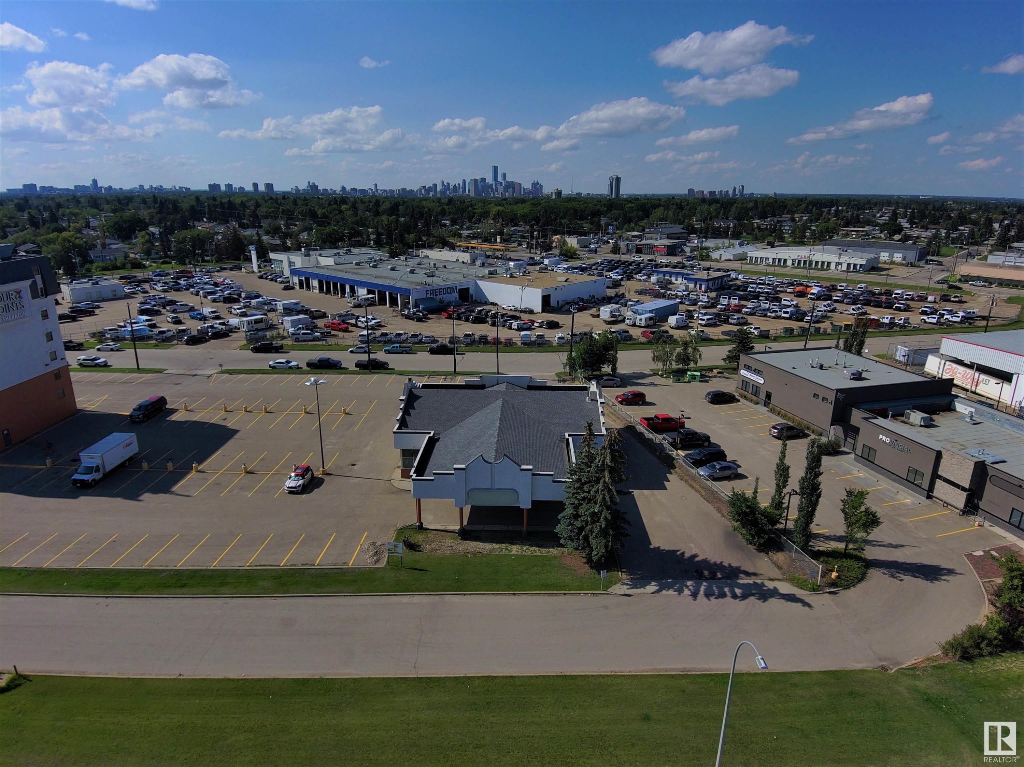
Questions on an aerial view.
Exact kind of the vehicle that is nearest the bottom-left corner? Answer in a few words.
truck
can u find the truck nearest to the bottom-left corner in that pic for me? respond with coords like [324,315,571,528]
[68,431,145,491]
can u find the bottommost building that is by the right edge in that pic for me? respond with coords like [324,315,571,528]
[829,399,1024,539]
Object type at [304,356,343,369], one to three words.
vehicle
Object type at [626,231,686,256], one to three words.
building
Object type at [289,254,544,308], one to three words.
building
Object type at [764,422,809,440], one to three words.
car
